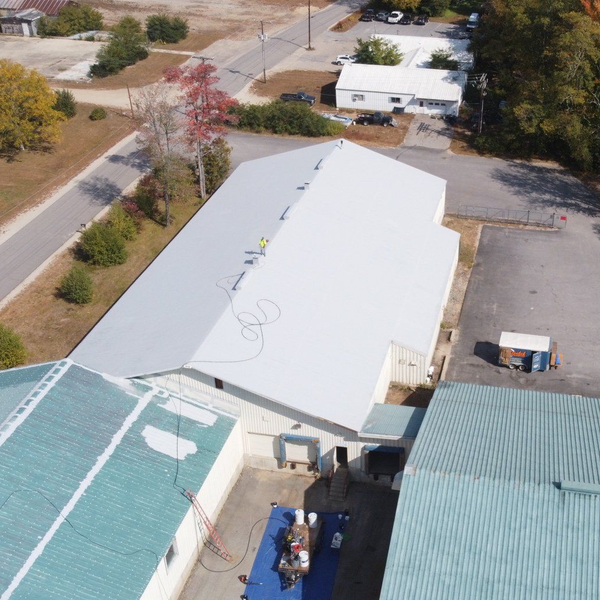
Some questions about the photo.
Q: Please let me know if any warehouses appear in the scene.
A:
Yes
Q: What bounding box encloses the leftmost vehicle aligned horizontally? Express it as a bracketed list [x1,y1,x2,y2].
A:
[278,87,319,103]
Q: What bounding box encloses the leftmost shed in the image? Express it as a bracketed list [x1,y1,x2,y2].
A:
[0,15,32,43]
